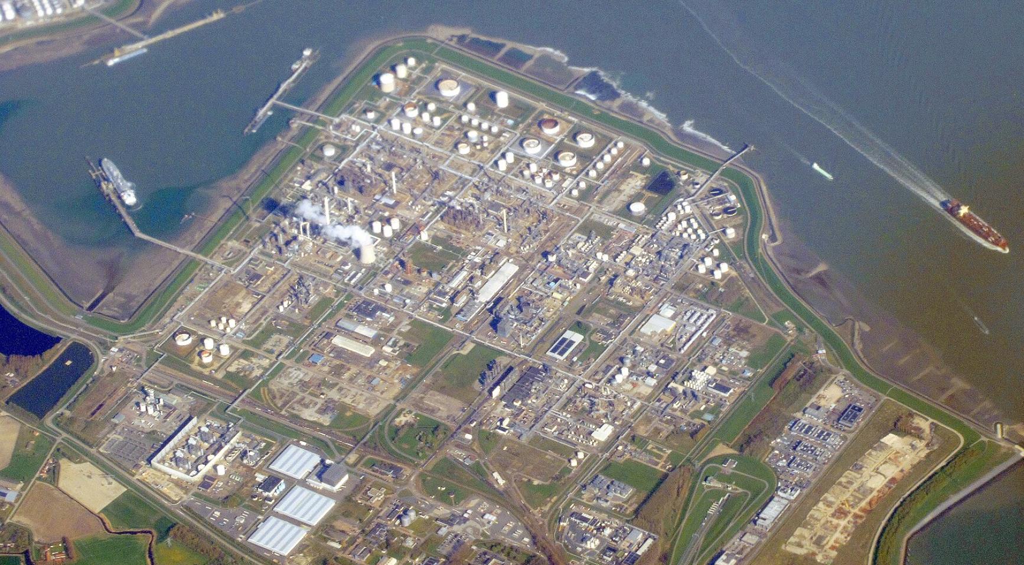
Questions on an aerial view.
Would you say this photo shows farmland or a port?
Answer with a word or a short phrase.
port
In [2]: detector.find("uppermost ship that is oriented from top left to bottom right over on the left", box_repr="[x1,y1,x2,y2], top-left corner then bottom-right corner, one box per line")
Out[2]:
[99,158,141,207]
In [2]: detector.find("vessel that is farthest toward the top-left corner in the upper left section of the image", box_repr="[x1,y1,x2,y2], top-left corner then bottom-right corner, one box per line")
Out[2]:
[108,51,147,65]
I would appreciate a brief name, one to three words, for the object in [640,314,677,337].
building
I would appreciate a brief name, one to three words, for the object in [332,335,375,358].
building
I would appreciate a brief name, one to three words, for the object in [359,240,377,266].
cooling tower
